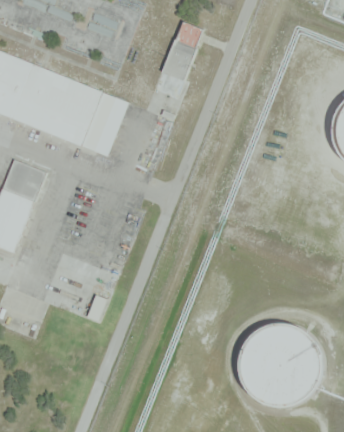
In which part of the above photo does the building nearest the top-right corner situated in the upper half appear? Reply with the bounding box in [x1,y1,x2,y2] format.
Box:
[162,22,203,80]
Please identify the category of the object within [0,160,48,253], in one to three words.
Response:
building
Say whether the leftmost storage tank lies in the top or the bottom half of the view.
bottom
